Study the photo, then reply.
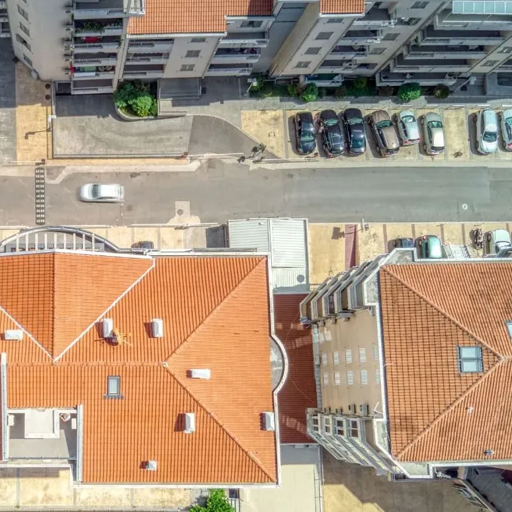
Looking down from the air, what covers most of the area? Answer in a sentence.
For the most part, this view shows buildings.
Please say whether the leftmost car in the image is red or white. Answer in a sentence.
From above, the leftmost car appears white.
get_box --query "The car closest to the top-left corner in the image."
[80,182,124,203]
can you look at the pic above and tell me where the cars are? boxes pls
[475,111,501,154]
[393,111,421,147]
[491,229,512,252]
[339,109,368,156]
[419,114,448,156]
[418,233,443,257]
[317,111,345,156]
[80,182,124,203]
[293,112,318,156]
[498,110,512,152]
[368,111,399,156]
